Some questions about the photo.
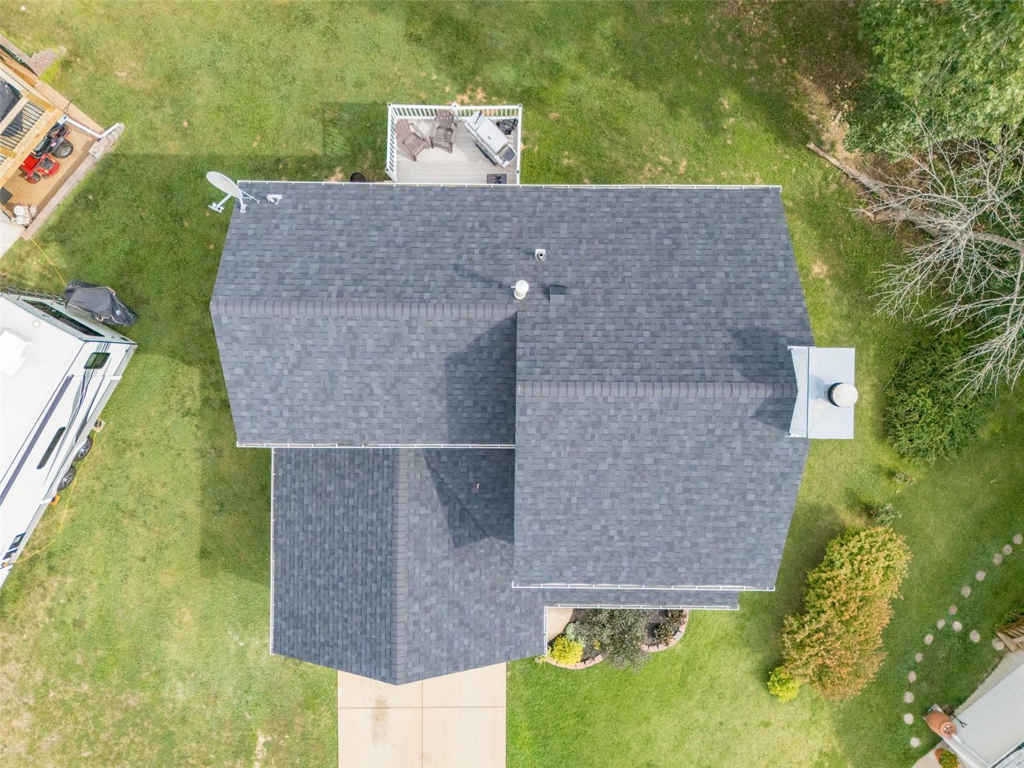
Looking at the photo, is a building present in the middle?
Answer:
Yes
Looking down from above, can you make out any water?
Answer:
No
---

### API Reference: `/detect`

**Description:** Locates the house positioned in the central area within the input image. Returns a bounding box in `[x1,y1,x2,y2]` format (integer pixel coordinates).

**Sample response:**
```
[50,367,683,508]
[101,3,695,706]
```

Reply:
[212,182,860,684]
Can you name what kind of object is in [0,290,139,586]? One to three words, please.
trailer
